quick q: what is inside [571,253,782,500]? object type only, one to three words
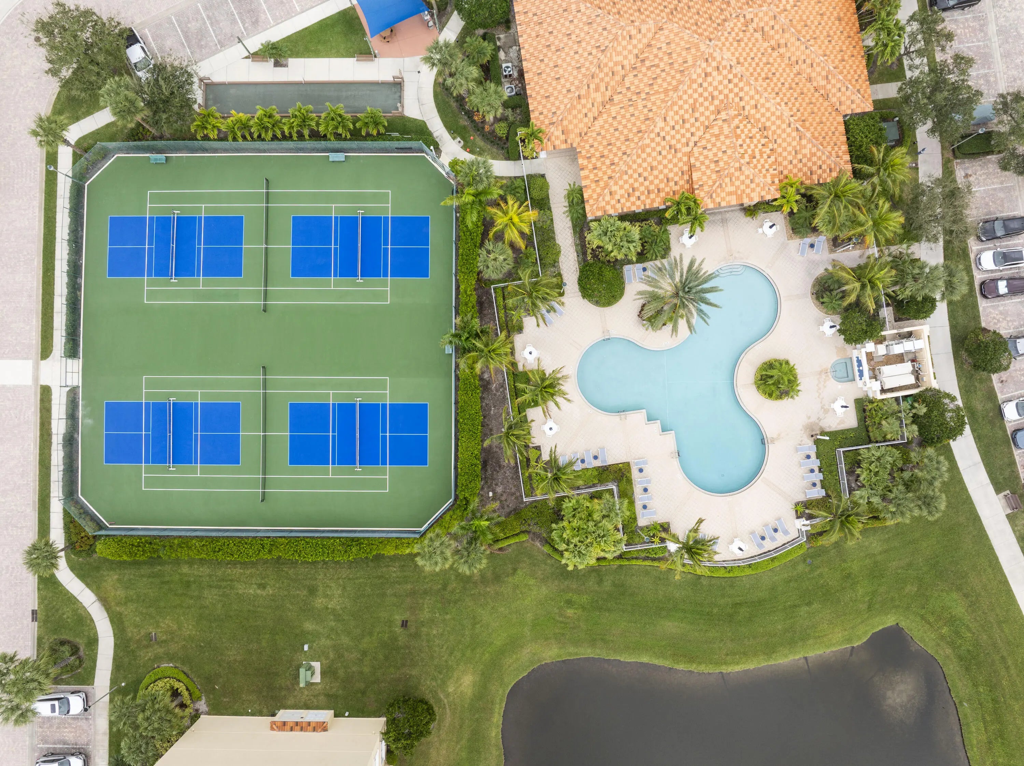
swimming pool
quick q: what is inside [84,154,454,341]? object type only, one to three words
tennis court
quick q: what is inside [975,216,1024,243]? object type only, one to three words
car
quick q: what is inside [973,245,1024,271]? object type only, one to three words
car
